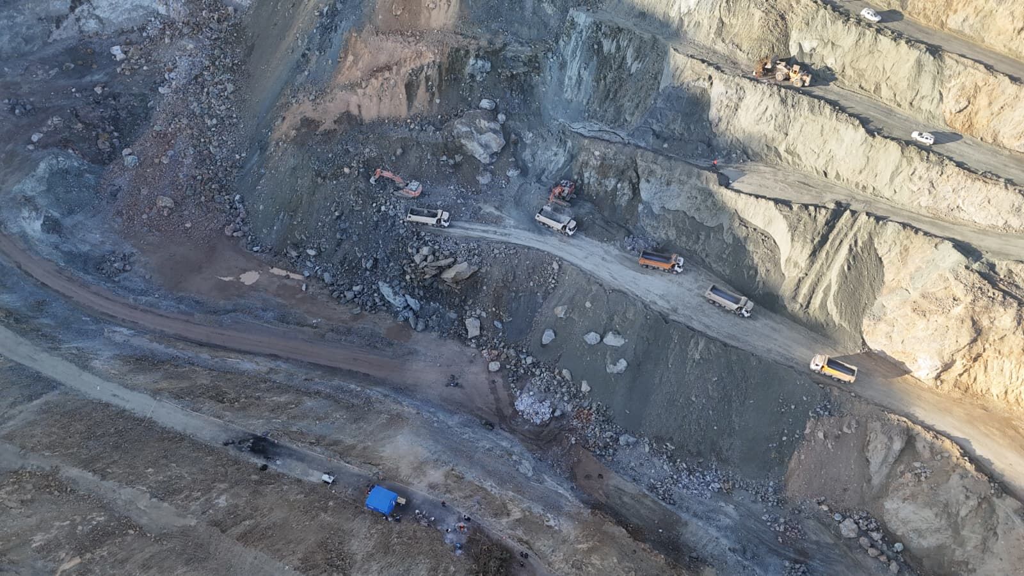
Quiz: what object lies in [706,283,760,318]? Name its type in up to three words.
truck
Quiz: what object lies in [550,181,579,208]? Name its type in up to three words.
work vehicle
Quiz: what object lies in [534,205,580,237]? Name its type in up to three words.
truck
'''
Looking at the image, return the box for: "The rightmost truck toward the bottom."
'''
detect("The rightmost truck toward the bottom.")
[806,351,868,386]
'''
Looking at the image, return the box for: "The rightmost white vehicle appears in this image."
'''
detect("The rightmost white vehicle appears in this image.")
[910,131,940,146]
